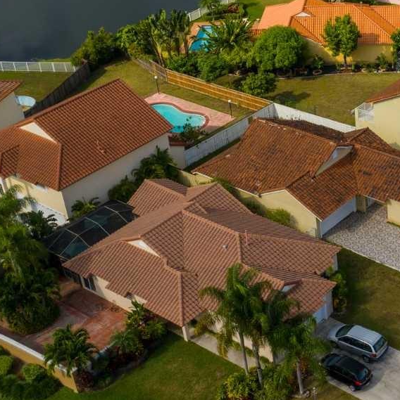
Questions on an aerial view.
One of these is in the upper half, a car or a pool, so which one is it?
pool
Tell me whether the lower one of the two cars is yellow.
No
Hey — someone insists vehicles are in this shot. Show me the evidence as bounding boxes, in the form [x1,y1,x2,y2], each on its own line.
[318,355,376,392]
[326,324,391,366]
